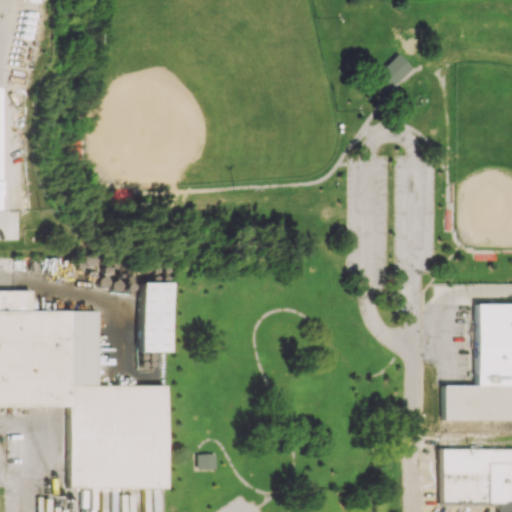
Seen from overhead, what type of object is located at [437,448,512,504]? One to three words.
building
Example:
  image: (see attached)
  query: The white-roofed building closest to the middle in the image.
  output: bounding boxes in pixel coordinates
[138,282,177,353]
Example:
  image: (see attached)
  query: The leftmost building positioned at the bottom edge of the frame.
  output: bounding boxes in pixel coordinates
[65,386,166,488]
